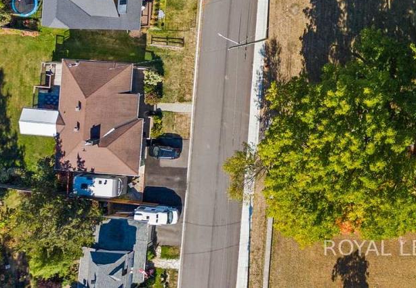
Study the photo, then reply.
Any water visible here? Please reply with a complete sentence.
No, there's no water in this view.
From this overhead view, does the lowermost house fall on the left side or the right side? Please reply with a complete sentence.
It is on the left.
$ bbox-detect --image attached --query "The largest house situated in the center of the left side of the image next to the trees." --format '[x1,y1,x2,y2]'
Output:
[55,58,150,178]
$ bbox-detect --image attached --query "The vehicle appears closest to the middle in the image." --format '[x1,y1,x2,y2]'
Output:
[150,144,184,160]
